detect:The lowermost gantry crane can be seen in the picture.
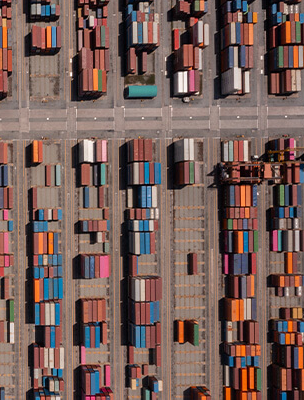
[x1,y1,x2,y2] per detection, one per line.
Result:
[210,163,281,183]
